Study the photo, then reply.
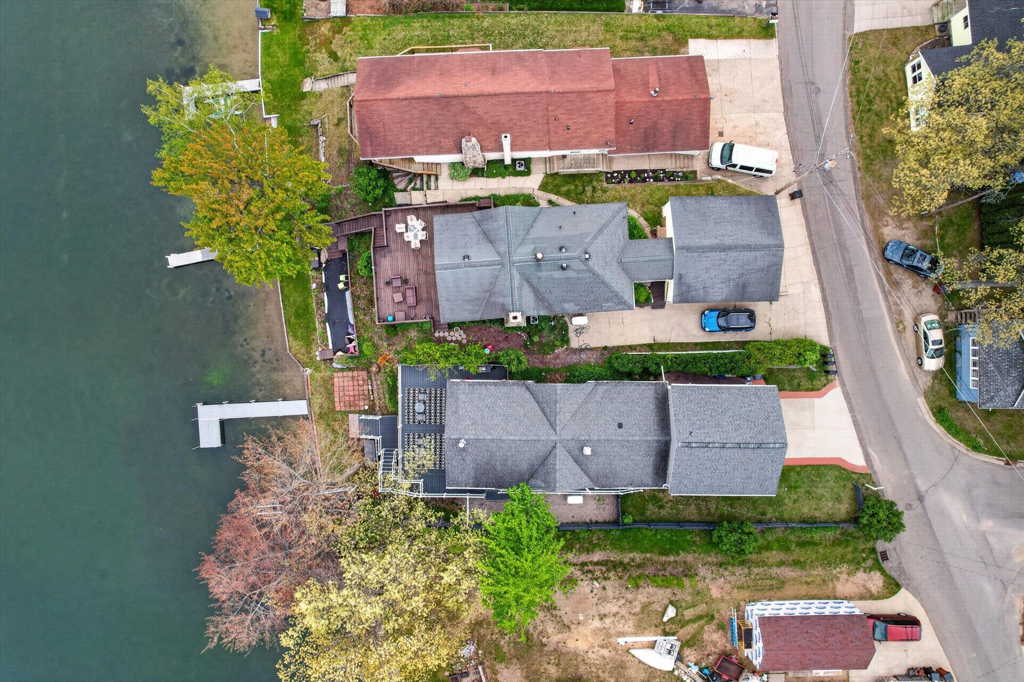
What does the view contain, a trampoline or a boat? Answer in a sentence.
I can see a boat in this picture.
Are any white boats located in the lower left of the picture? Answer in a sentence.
No, there's no white boat to be seen in the lower left of the picture.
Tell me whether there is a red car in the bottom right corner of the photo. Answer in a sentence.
Yes, a red car can be seen in the bottom right corner of the photo.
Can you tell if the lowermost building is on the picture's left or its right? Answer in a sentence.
The lowermost building appears in the right half of the scene.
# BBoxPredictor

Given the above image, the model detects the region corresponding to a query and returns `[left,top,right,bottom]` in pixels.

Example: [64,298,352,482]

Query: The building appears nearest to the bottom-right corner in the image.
[745,600,876,670]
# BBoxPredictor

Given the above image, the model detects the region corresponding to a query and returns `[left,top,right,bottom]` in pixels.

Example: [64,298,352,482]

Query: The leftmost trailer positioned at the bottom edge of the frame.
[715,653,750,682]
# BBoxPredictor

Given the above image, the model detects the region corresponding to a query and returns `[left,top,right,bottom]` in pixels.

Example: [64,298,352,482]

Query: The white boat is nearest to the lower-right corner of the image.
[629,648,676,673]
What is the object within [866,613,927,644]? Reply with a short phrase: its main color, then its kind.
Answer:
red car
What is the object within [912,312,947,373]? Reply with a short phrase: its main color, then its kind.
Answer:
white car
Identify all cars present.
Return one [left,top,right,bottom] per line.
[878,240,945,279]
[700,306,756,334]
[912,312,947,373]
[707,139,781,177]
[866,613,927,644]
